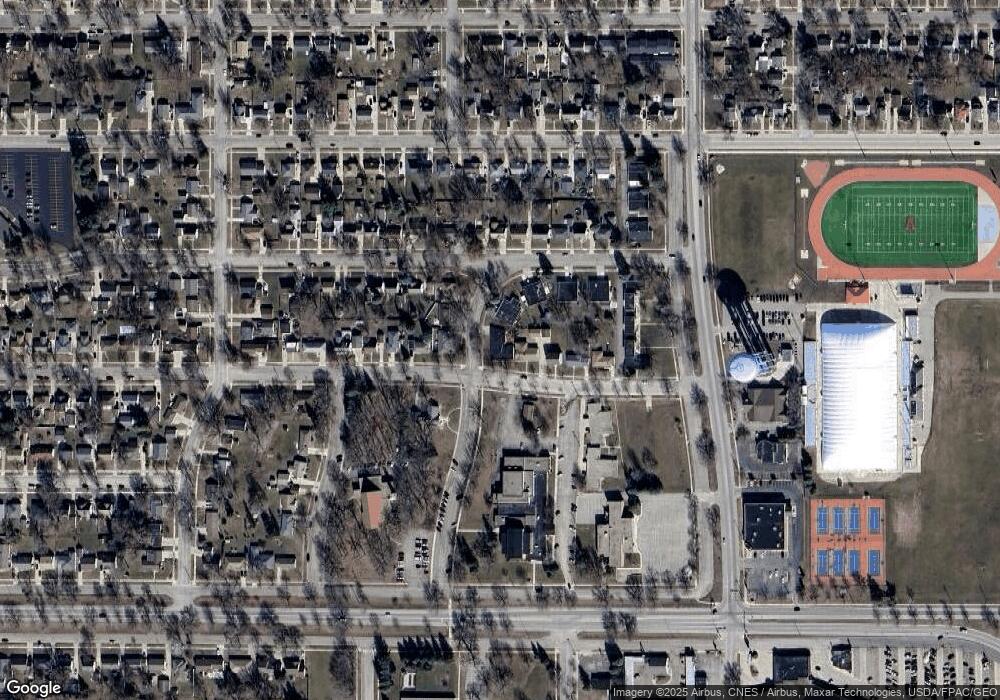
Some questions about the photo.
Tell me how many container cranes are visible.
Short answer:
0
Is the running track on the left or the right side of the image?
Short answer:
right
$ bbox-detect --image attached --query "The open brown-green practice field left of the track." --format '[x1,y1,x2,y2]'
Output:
[711,155,797,296]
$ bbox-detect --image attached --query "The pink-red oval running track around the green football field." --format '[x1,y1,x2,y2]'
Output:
[808,168,1000,280]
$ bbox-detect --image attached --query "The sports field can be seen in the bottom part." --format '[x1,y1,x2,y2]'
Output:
[887,299,1000,602]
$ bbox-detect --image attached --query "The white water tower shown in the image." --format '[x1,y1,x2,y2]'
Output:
[728,350,776,382]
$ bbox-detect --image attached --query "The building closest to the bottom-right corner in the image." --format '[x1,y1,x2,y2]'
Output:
[830,650,853,669]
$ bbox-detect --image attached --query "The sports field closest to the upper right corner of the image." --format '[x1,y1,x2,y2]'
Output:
[820,182,1000,266]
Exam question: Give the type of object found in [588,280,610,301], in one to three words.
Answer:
building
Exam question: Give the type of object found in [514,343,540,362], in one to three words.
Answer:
house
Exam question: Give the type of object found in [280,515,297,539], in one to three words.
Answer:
house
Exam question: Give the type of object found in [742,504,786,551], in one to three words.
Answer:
building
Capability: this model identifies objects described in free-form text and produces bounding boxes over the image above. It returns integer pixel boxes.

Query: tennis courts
[866,508,880,533]
[832,508,844,533]
[848,550,860,576]
[848,508,860,533]
[832,550,844,576]
[866,550,880,576]
[815,508,828,533]
[815,550,828,576]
